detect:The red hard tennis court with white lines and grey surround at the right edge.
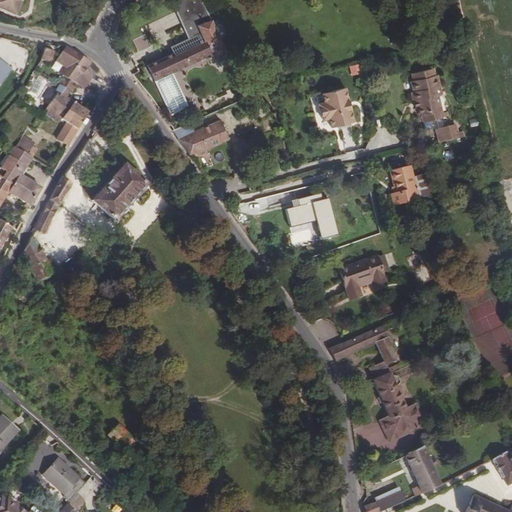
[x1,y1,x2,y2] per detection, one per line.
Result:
[456,286,512,380]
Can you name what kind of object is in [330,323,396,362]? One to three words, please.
barn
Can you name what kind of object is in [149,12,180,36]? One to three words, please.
building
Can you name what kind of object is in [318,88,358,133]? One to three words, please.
house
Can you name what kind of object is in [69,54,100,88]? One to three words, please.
house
